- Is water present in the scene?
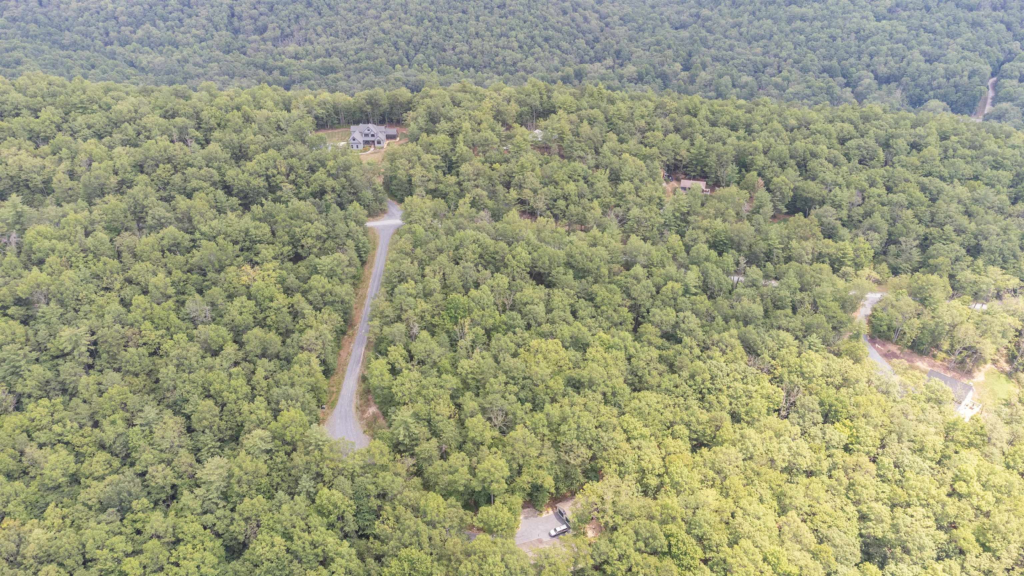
No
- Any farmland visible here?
No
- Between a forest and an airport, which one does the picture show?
forest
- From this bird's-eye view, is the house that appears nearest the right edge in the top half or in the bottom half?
bottom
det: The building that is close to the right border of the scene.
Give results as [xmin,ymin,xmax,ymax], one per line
[926,368,980,424]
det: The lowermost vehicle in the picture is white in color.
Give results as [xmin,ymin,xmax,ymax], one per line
[547,523,570,539]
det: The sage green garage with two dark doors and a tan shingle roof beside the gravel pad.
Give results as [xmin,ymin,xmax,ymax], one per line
[555,491,582,532]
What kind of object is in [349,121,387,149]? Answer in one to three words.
house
